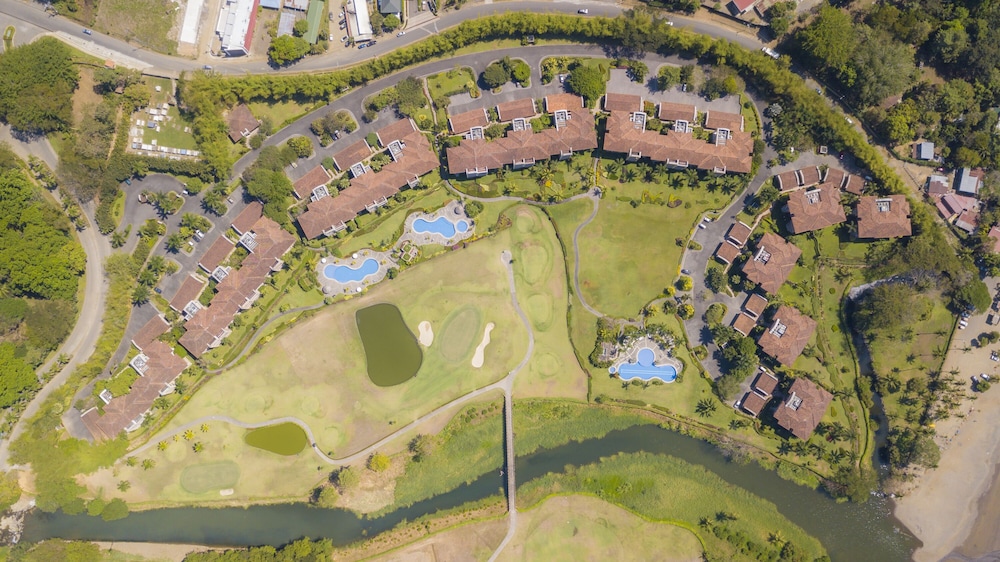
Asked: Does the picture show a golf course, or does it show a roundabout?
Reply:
golf course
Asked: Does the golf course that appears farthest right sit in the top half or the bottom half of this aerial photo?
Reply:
bottom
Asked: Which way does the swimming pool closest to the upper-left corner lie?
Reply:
from left to right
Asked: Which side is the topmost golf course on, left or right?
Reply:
left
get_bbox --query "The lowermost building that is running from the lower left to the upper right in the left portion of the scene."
[95,337,193,439]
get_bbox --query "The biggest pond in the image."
[357,302,423,386]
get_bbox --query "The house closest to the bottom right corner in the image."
[772,380,833,439]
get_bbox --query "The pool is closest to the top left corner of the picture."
[323,258,380,283]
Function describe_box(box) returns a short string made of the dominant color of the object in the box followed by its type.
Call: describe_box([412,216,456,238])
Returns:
blue swimming pool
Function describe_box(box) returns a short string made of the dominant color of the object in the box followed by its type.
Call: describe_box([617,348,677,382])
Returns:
blue swimming pool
